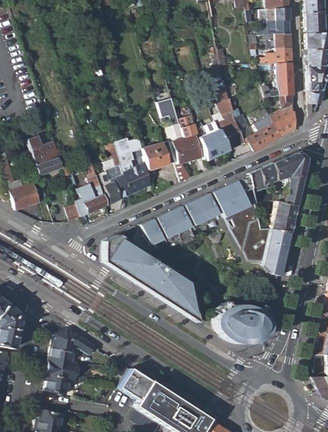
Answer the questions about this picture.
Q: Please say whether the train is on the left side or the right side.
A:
left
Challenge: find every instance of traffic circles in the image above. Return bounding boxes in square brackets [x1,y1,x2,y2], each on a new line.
[238,386,304,432]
